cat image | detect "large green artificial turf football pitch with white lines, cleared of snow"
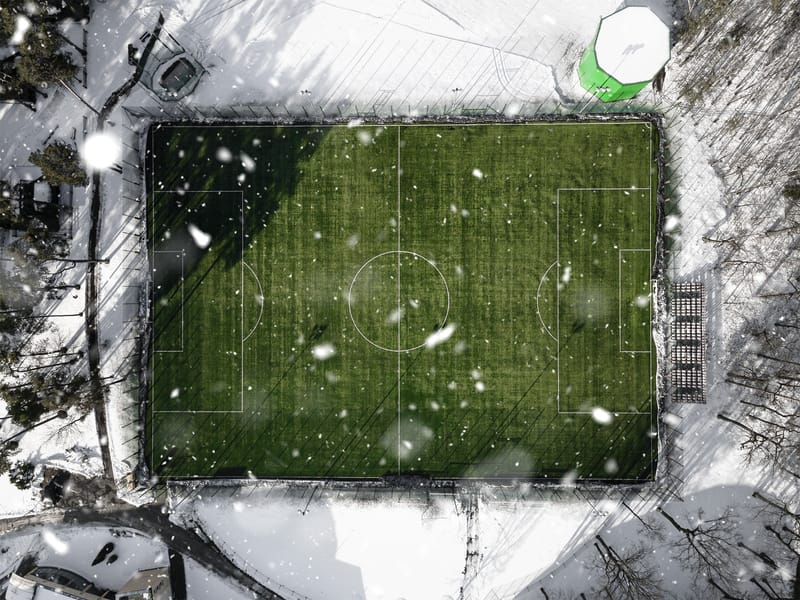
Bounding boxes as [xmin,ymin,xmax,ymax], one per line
[139,112,668,489]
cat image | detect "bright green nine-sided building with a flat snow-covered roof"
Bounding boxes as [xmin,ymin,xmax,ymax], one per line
[580,5,672,102]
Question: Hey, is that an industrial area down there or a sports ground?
sports ground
